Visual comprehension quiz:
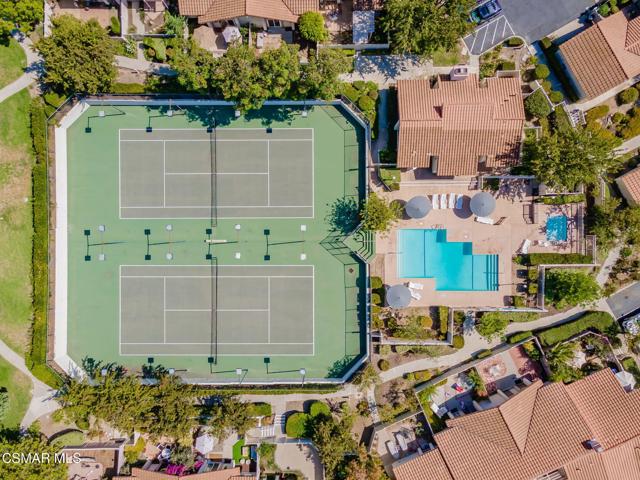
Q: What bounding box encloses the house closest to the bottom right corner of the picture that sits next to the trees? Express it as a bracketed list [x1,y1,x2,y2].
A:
[392,366,640,480]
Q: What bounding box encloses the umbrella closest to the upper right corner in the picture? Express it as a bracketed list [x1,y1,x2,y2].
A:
[469,191,496,218]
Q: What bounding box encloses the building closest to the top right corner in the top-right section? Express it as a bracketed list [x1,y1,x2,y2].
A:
[555,11,640,102]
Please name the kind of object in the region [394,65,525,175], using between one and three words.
building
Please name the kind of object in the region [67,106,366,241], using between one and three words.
tennis court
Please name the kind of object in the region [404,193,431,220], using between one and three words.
umbrella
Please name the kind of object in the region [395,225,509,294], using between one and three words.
swimming pool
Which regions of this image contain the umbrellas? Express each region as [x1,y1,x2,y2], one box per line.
[193,28,218,51]
[469,191,496,218]
[196,432,216,452]
[404,193,431,220]
[144,440,159,456]
[222,24,239,45]
[386,283,411,309]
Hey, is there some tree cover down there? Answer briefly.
Yes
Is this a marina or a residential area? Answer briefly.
residential area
